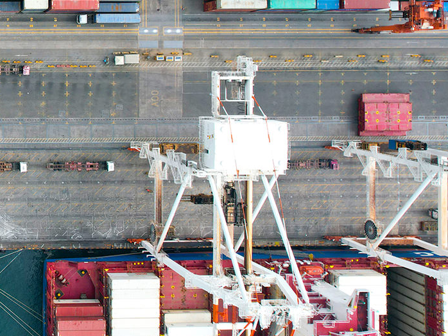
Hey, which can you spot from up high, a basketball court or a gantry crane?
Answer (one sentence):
The image shows a gantry crane.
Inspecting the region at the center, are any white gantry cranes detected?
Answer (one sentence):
Yes, there is a white gantry crane at the center.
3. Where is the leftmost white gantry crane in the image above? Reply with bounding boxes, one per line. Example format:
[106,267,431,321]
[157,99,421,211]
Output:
[125,53,317,336]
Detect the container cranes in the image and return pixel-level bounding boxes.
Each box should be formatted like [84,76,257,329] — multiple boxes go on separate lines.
[125,53,317,336]
[324,143,448,288]
[361,0,448,38]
